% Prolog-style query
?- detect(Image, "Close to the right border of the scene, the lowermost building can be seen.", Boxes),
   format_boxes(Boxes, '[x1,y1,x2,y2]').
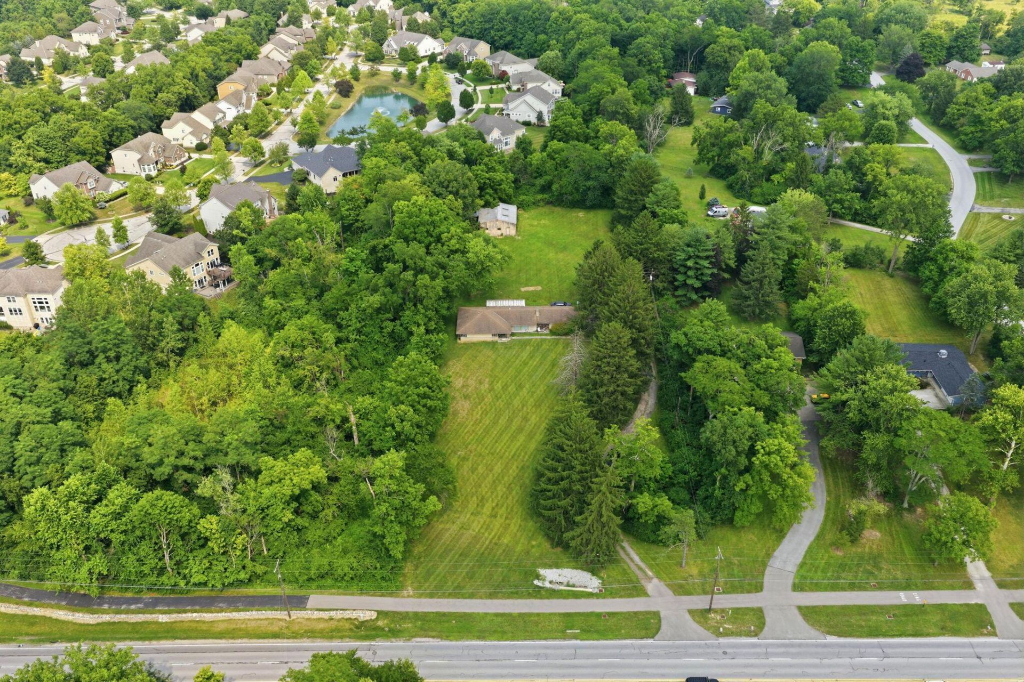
[899,337,992,408]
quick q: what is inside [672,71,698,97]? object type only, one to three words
house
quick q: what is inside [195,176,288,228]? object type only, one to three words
house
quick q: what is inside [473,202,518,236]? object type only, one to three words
barn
